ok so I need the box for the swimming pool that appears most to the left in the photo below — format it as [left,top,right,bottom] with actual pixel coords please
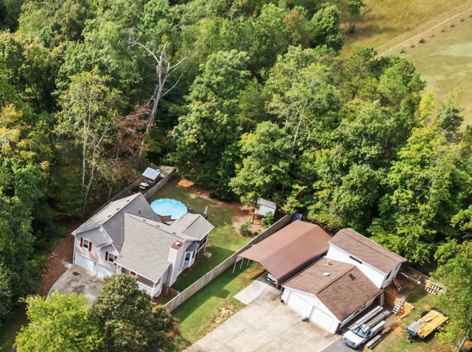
[150,195,189,225]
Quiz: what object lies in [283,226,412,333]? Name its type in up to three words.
building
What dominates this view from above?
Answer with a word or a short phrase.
trees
